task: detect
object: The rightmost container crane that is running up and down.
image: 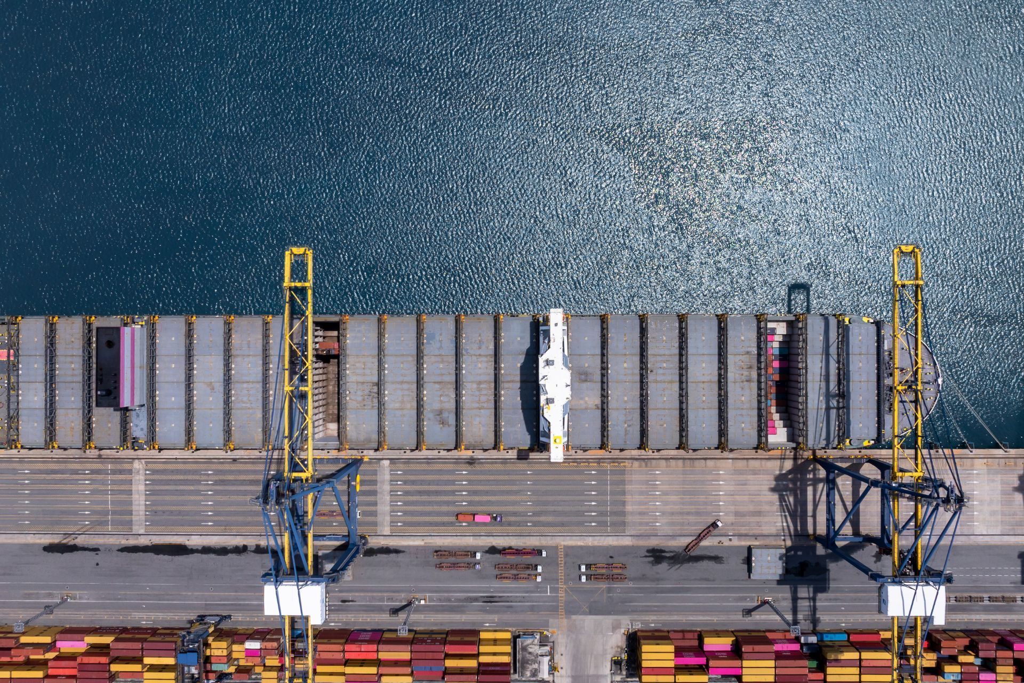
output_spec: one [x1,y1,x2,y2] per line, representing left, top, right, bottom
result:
[800,246,971,683]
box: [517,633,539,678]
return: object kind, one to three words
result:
building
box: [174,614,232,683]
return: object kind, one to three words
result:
crane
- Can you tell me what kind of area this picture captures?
port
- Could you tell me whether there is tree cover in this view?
No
